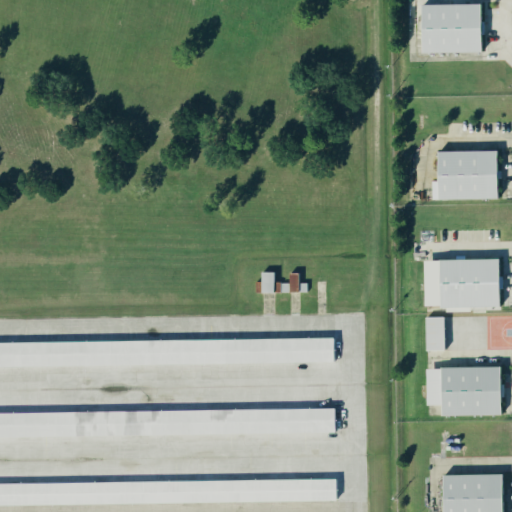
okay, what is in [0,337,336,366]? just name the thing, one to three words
building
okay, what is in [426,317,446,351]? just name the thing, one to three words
shed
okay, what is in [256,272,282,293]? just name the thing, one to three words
barn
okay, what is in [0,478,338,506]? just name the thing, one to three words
building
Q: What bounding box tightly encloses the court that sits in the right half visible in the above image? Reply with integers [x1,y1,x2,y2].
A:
[488,316,512,350]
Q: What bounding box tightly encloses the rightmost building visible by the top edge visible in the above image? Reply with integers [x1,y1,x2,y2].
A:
[422,4,486,54]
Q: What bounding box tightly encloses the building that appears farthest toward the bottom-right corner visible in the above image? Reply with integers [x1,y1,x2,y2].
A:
[442,474,508,512]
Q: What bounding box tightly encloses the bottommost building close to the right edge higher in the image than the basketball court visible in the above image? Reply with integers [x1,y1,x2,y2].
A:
[424,256,504,312]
